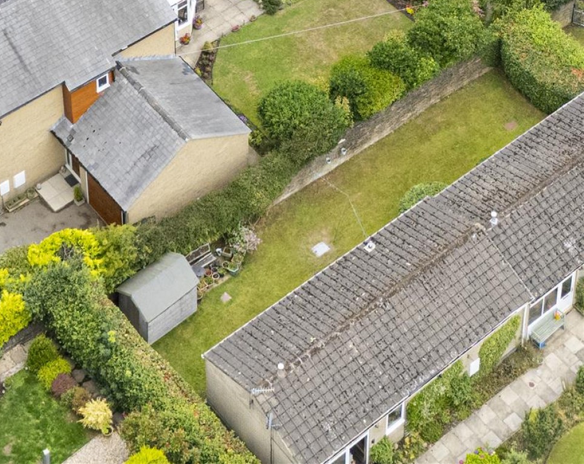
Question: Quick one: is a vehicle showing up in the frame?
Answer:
No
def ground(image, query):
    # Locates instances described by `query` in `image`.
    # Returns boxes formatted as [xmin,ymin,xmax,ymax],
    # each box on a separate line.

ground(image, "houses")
[202,77,584,464]
[0,0,253,235]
